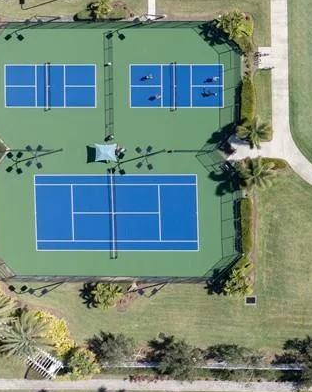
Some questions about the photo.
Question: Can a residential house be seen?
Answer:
No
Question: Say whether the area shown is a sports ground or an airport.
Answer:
sports ground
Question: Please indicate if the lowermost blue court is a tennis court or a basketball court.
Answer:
tennis court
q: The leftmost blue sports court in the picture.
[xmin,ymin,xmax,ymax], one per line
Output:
[4,62,96,111]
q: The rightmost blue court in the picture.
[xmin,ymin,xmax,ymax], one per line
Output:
[129,62,223,111]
